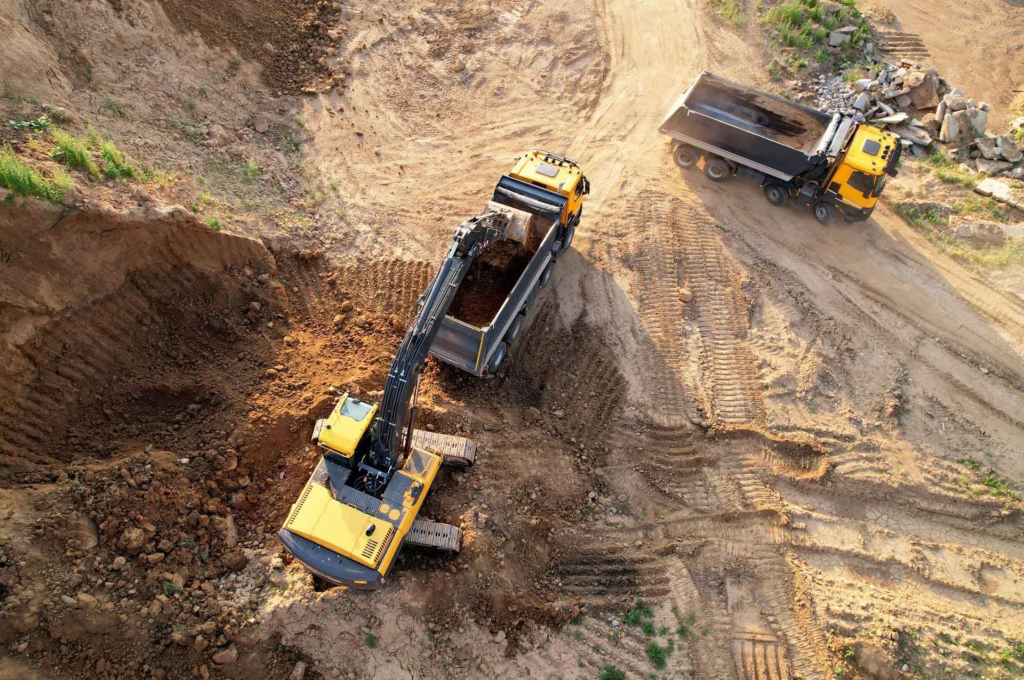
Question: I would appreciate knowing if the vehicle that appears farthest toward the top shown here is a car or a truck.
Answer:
truck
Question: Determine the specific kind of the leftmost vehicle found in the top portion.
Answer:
truck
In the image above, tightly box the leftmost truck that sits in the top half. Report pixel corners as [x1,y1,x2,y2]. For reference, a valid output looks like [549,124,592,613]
[416,150,594,378]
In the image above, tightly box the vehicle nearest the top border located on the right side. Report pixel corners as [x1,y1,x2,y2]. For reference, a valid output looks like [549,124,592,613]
[655,66,903,229]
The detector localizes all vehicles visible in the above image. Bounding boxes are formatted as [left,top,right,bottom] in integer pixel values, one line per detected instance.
[655,66,903,229]
[283,199,530,594]
[416,150,594,378]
